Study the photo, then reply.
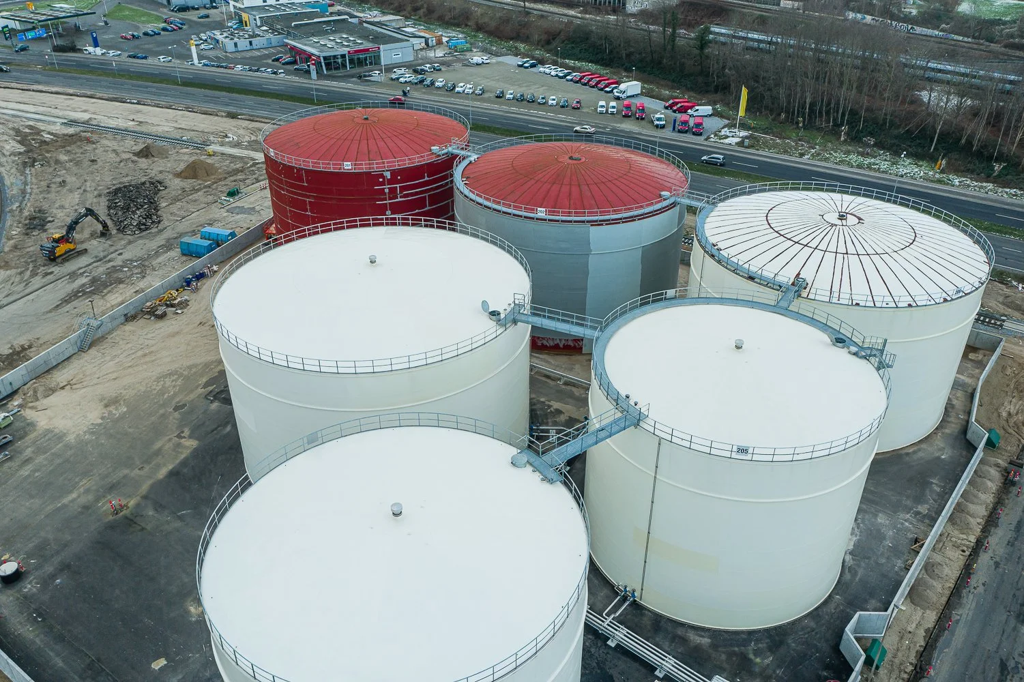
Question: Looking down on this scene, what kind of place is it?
industrial area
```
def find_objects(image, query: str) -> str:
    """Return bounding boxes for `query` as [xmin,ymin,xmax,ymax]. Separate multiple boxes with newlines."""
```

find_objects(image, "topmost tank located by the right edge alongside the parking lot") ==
[688,181,994,453]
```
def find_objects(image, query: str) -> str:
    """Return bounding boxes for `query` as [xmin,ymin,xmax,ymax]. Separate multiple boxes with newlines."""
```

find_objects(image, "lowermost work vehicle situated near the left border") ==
[39,205,116,267]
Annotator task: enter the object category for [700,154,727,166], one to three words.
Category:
vehicle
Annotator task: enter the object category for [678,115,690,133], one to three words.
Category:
vehicle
